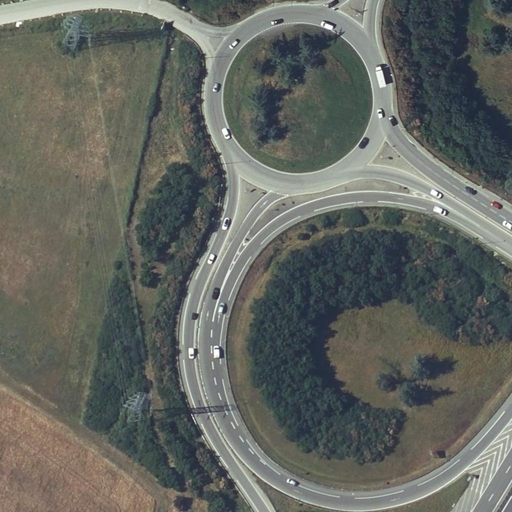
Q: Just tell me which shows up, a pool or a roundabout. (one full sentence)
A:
I can see a roundabout in this picture.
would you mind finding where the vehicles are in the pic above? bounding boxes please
[222,218,230,231]
[285,478,298,487]
[388,115,398,128]
[490,201,502,210]
[188,348,194,360]
[214,346,220,360]
[229,39,240,50]
[212,82,219,94]
[320,22,334,32]
[429,190,442,200]
[378,108,384,120]
[222,128,230,140]
[358,138,369,150]
[218,303,224,315]
[501,220,512,230]
[191,311,198,323]
[327,0,339,10]
[207,254,216,266]
[376,67,388,89]
[212,288,219,301]
[432,206,446,217]
[464,186,478,196]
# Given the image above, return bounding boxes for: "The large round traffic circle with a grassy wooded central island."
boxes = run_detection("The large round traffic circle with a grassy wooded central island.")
[201,2,390,195]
